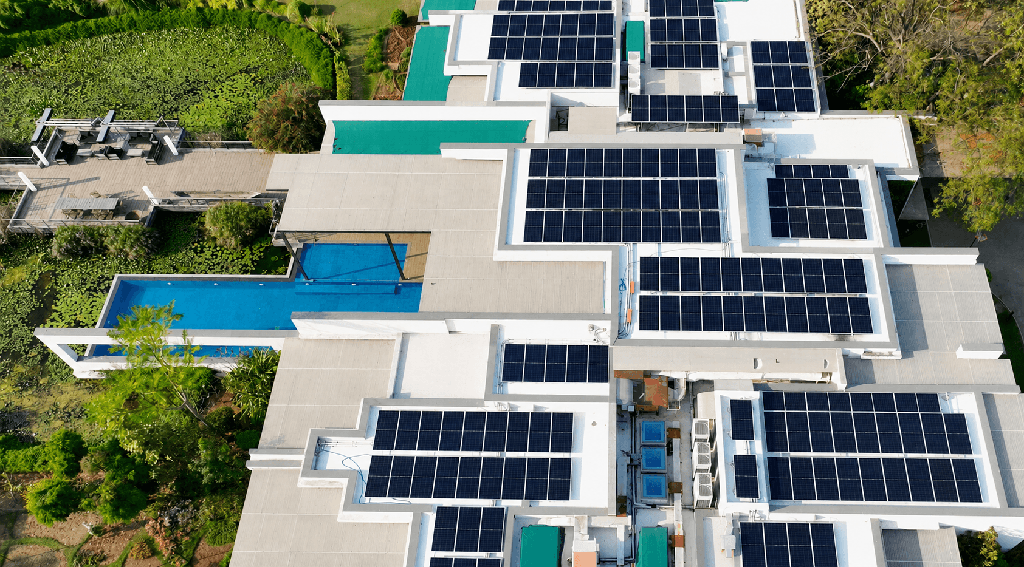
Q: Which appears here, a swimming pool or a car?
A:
swimming pool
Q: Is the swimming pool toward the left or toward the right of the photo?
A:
left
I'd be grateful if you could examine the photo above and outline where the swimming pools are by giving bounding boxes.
[88,240,424,369]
